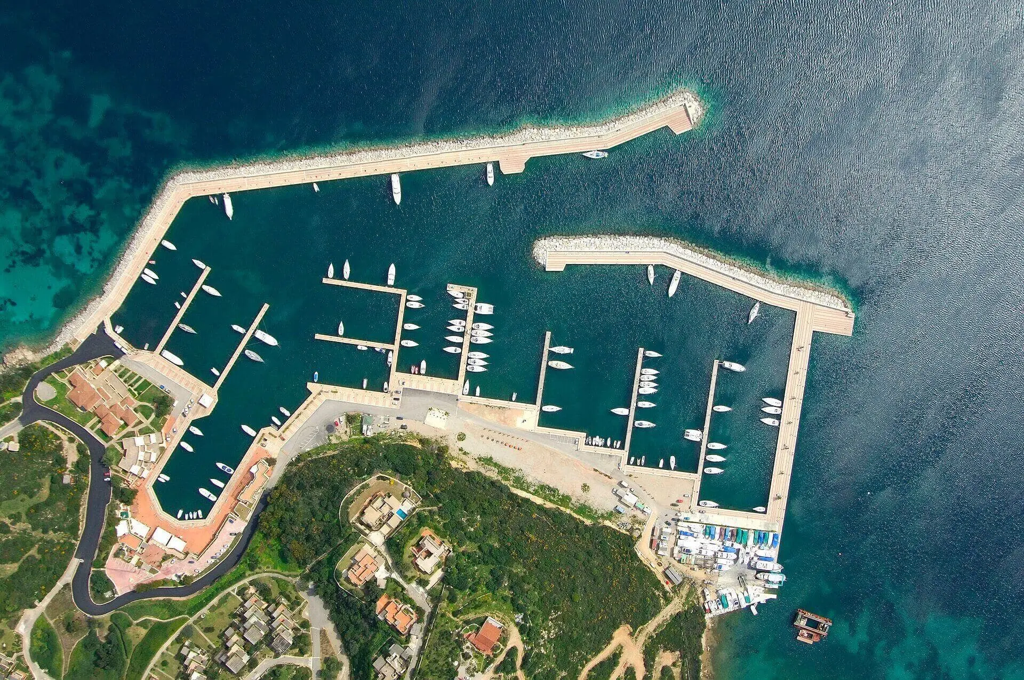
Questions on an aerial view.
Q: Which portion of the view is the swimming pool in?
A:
bottom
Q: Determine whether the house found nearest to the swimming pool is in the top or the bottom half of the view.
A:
bottom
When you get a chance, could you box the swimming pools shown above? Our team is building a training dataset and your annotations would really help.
[396,498,416,519]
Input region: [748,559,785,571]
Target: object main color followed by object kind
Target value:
white boat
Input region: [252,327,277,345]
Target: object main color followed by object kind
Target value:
white boat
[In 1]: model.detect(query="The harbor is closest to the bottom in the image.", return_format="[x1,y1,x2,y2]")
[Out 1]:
[104,317,775,526]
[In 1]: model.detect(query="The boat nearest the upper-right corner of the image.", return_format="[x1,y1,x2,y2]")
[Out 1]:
[749,301,763,323]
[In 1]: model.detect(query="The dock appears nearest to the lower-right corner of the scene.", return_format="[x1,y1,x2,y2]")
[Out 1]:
[747,581,780,615]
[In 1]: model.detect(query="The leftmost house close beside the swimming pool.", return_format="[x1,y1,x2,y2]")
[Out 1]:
[361,491,402,535]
